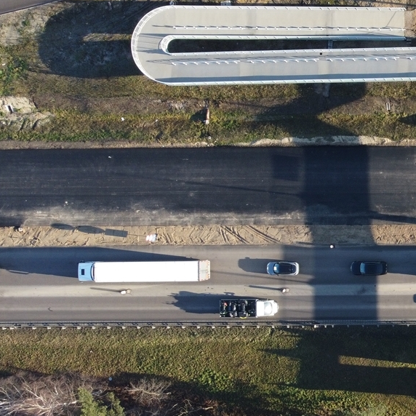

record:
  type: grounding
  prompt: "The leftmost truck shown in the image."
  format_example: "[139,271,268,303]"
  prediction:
[76,259,211,283]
